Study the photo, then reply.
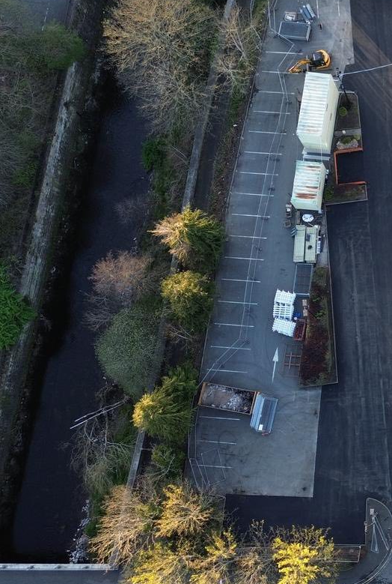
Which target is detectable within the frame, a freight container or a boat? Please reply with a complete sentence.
The image shows a freight container.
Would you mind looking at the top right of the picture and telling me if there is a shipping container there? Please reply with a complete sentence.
Yes, a shipping container is visible at the top right of the picture.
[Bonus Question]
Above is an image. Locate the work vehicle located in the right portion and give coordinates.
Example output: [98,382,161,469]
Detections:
[288,54,332,78]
